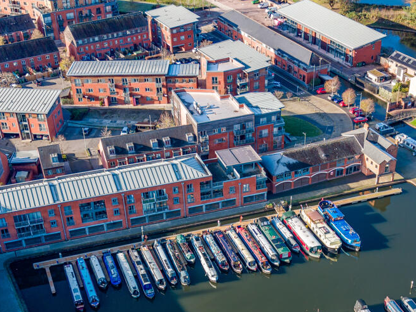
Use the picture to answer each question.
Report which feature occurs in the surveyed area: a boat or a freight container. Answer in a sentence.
Looking from above, you can make out a boat.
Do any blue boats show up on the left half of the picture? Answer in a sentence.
Yes, looking on the left half of the picture, one can make out a blue boat.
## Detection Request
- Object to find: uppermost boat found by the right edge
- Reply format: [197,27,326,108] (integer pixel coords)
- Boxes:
[376,120,397,135]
